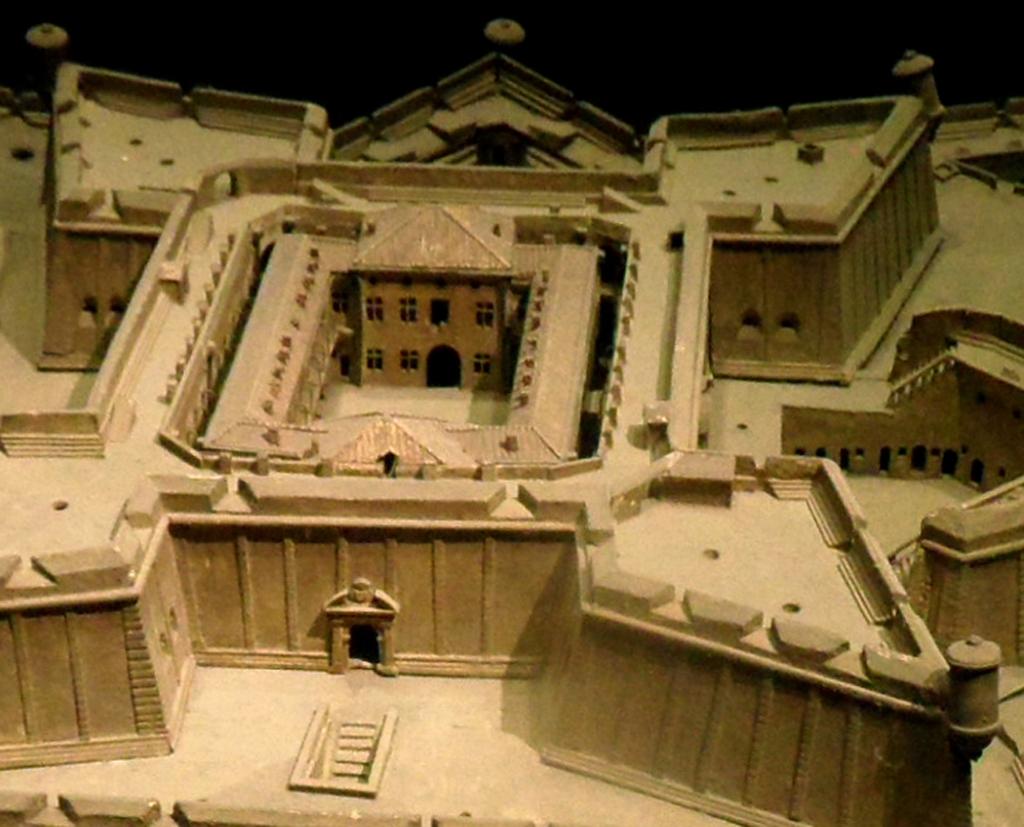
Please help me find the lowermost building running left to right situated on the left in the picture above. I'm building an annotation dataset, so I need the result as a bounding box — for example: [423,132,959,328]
[203,414,564,468]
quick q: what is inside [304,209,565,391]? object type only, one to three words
building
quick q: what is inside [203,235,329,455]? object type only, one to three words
building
